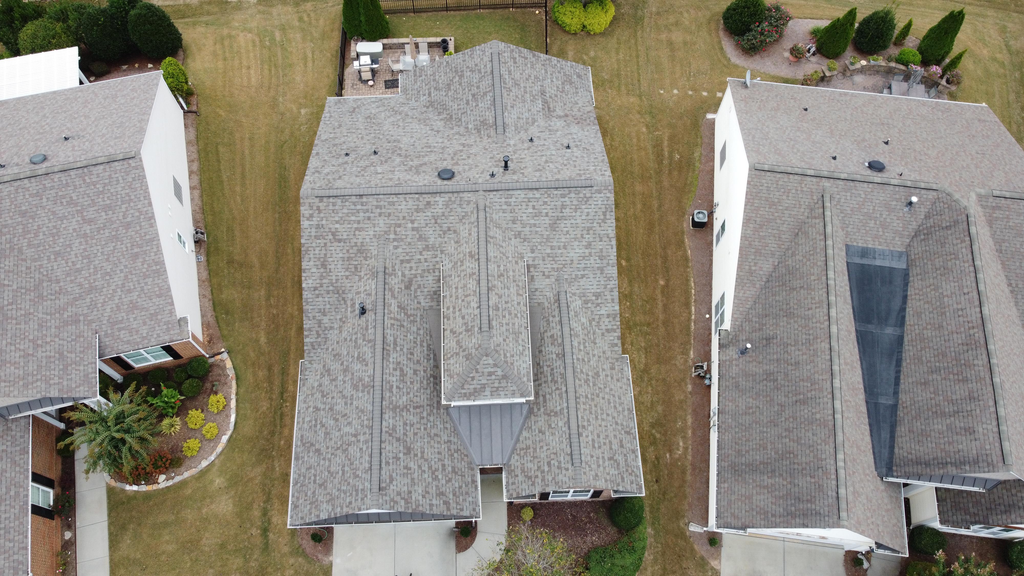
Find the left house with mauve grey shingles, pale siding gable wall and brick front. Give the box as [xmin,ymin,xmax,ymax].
[0,71,212,576]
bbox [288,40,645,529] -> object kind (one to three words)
house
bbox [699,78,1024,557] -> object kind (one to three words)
house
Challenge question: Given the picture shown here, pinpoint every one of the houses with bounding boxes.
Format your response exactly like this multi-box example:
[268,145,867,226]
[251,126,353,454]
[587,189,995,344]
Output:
[288,40,645,529]
[699,78,1024,557]
[0,71,212,576]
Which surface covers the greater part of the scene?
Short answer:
buildings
